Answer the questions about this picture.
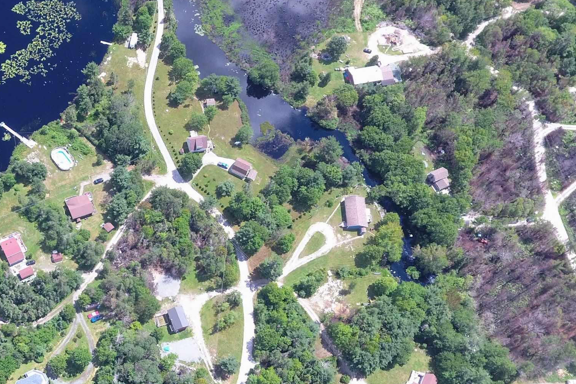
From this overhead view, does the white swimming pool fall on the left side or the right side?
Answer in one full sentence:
It is on the left.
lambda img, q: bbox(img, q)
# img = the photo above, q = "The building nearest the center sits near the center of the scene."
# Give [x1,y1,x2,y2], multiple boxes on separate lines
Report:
[230,159,258,181]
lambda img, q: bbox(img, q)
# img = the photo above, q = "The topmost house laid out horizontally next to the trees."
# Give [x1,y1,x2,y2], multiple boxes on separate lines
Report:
[346,64,394,86]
